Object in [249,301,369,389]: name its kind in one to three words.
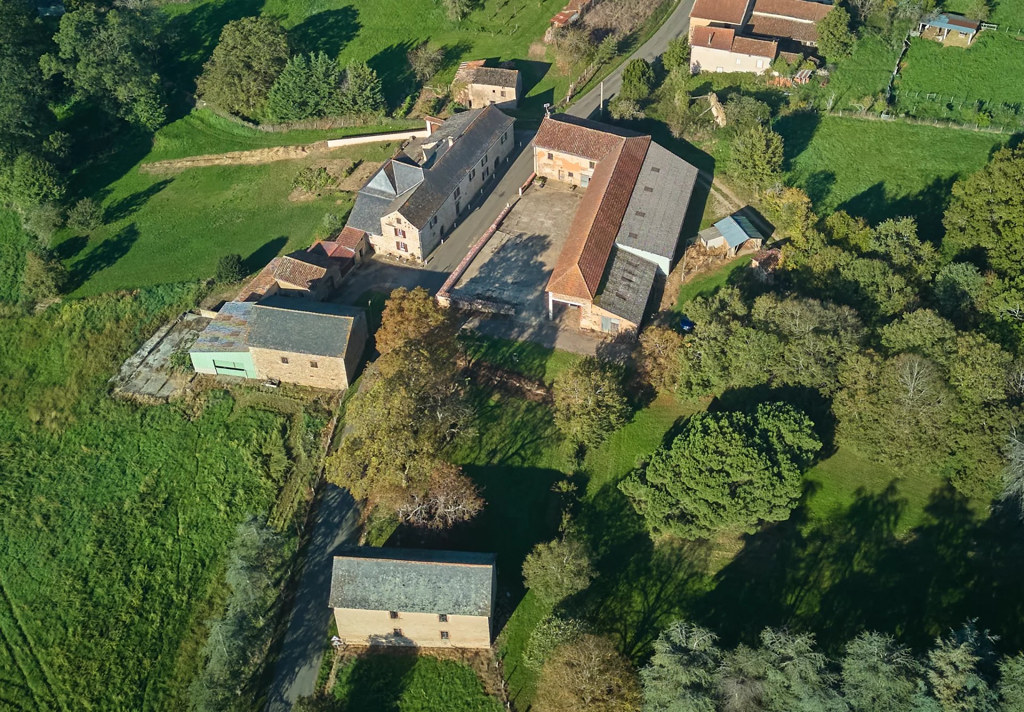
barn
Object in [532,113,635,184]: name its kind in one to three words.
house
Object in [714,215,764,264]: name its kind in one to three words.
shed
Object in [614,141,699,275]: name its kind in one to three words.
barn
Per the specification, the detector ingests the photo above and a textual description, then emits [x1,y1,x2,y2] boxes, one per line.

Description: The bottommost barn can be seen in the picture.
[329,545,498,648]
